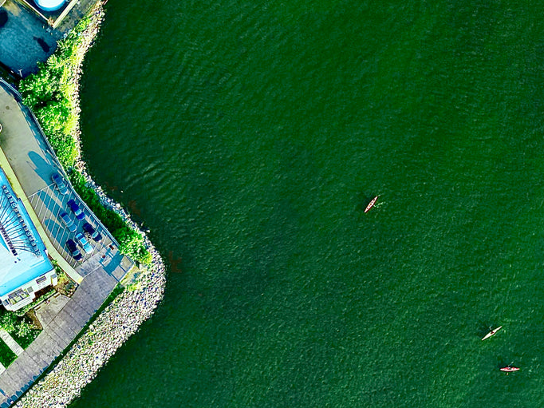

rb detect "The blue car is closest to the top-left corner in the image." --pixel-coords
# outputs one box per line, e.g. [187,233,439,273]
[52,174,69,197]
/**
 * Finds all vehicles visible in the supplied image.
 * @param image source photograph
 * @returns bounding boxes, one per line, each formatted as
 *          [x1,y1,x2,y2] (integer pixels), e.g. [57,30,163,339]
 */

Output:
[52,174,69,197]
[64,238,84,261]
[75,231,95,254]
[66,198,86,221]
[57,210,78,232]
